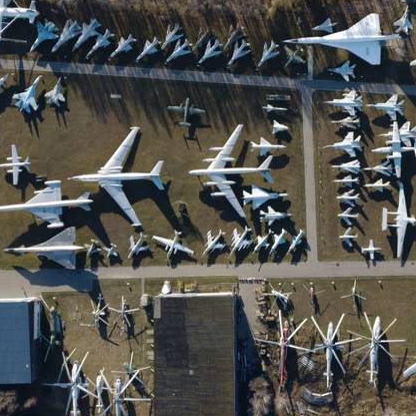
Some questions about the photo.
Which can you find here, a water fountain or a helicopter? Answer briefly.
helicopter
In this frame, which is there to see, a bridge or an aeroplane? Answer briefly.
aeroplane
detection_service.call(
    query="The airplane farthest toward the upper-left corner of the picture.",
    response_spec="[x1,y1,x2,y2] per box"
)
[30,18,59,51]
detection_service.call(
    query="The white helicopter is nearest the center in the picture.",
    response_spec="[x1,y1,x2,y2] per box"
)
[264,282,293,310]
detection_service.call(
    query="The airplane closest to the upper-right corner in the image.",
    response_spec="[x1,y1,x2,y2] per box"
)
[394,6,414,35]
